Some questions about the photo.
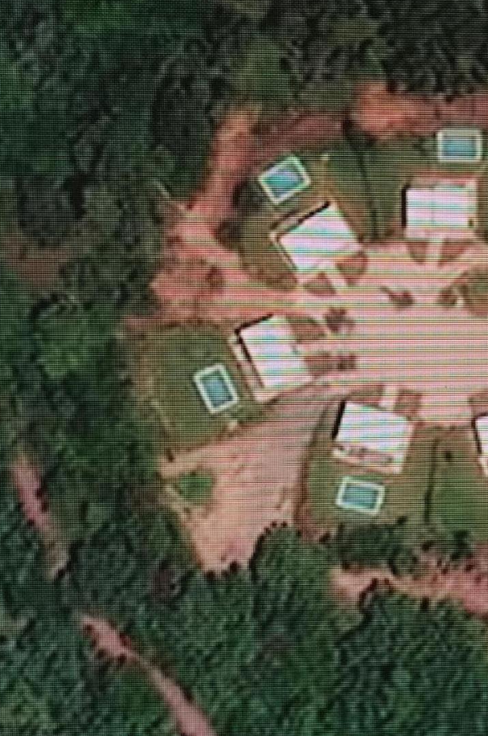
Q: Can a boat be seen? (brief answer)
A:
No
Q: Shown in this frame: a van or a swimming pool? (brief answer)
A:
swimming pool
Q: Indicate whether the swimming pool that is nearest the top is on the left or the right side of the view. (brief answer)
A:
right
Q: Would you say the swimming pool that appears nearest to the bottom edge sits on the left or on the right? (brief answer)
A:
right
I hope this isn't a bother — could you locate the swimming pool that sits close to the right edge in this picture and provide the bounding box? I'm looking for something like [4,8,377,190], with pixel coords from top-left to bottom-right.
[438,129,481,163]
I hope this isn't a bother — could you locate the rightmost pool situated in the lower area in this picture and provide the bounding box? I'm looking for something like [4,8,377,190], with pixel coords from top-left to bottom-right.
[336,475,385,515]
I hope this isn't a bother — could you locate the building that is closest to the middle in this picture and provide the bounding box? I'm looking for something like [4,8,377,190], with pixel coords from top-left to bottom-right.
[233,311,315,396]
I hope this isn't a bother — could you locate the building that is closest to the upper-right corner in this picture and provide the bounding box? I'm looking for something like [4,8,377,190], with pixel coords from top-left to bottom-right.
[404,177,478,257]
